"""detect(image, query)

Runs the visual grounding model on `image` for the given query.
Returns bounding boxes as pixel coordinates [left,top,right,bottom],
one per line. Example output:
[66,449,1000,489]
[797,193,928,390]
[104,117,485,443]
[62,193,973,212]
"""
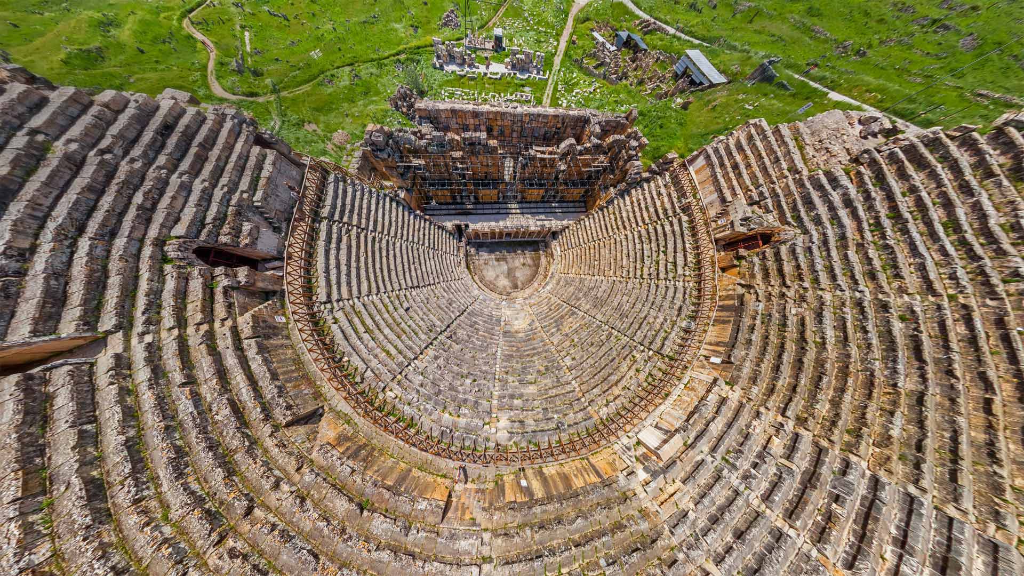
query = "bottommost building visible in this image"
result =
[349,96,643,243]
